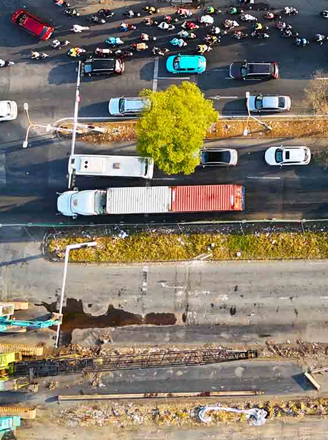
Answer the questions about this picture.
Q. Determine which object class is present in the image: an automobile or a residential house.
automobile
